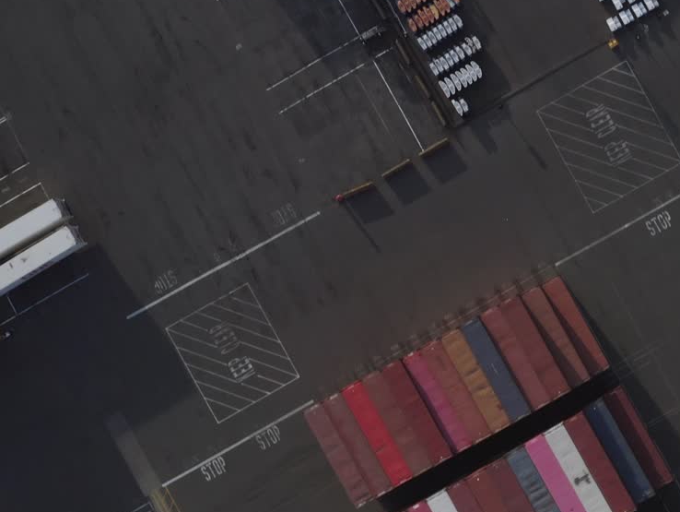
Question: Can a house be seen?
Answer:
No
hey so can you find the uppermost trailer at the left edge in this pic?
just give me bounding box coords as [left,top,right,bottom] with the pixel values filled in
[0,199,77,259]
